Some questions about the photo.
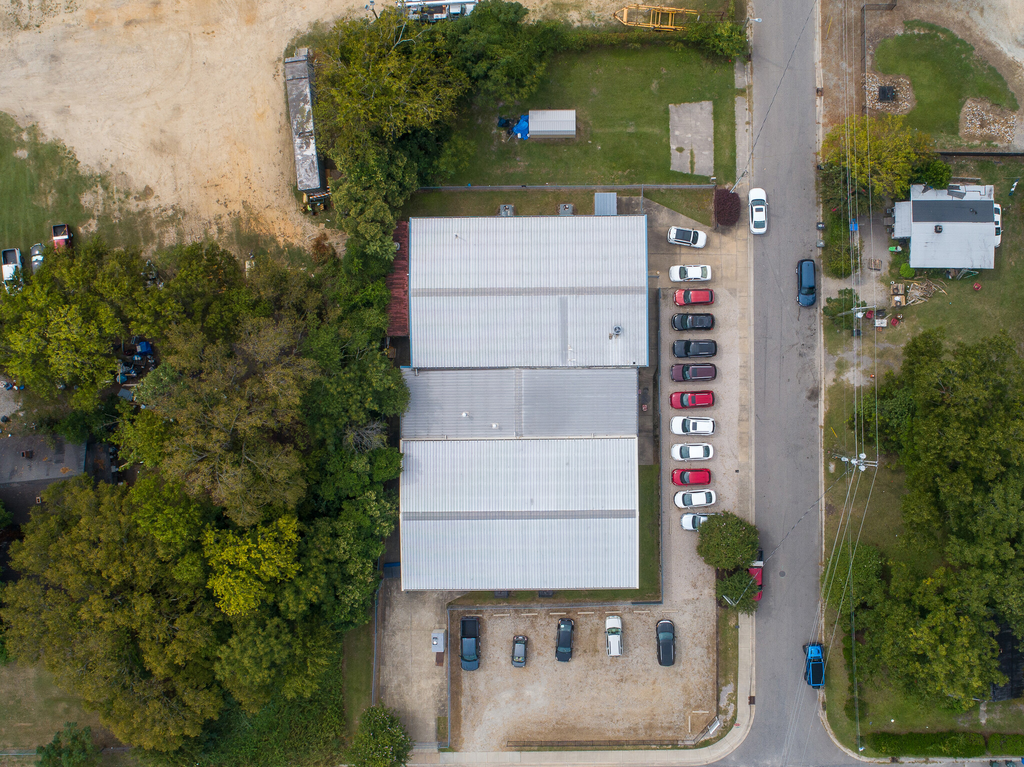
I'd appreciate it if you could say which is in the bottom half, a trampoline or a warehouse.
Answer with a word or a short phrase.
warehouse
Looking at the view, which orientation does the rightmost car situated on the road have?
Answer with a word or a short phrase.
up and down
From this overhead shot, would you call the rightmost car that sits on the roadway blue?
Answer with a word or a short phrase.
Yes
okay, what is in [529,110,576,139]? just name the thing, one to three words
shed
